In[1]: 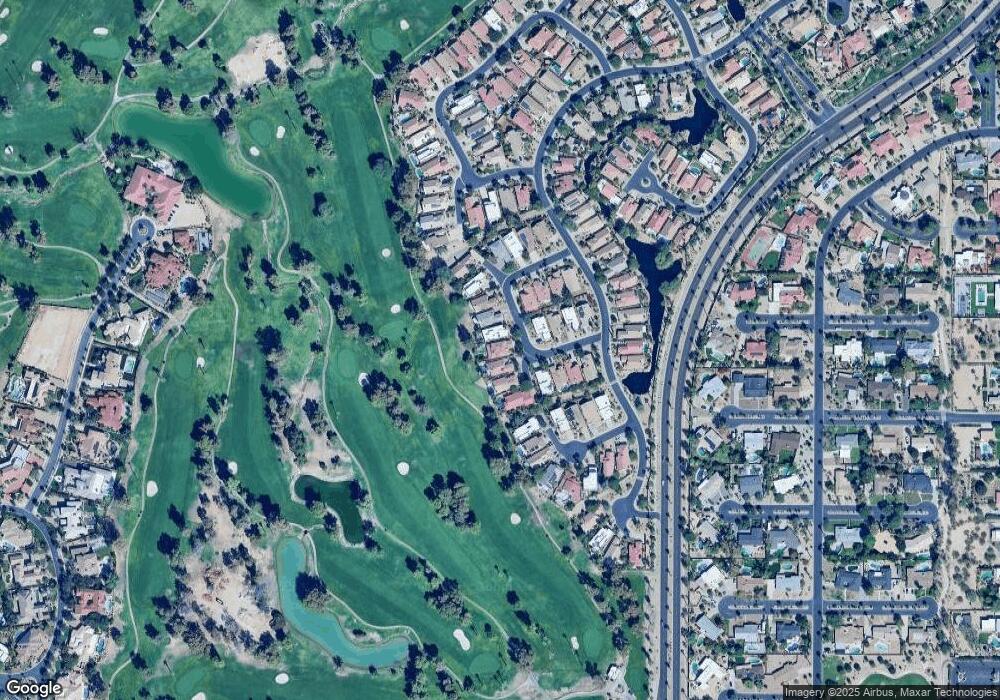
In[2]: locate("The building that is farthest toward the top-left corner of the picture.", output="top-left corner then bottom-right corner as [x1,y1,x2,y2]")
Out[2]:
[123,166,181,226]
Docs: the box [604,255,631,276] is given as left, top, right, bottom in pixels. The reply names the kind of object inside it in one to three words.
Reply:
house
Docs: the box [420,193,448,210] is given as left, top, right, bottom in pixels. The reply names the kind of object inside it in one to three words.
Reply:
house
